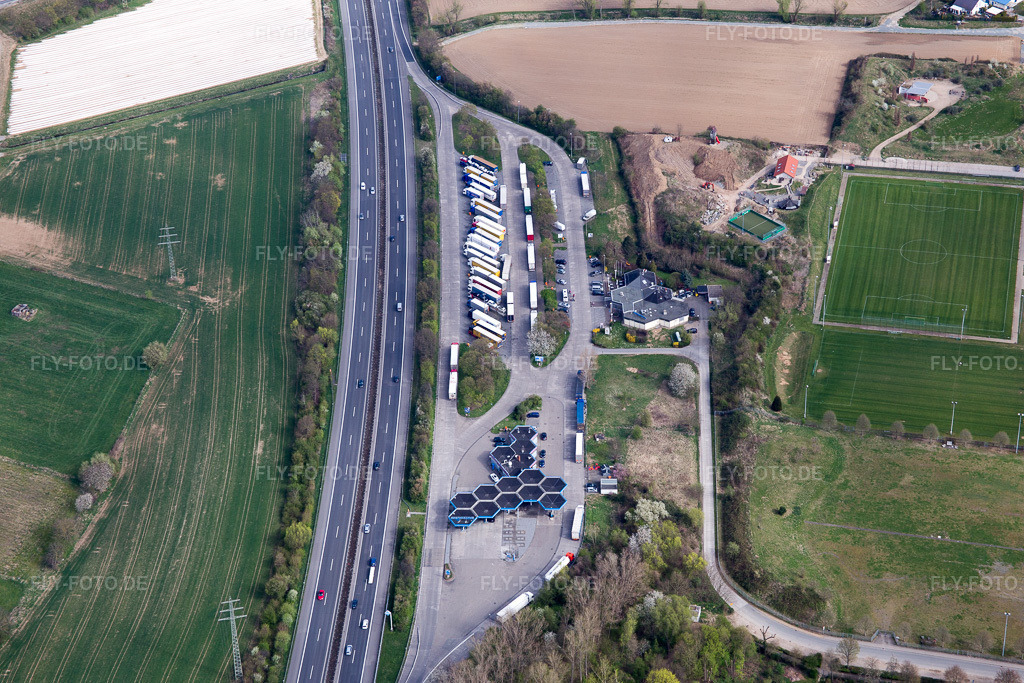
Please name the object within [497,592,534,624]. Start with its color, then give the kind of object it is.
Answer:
white truck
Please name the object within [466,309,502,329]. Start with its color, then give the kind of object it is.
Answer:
white vehicle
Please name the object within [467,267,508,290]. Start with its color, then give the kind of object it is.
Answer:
white truck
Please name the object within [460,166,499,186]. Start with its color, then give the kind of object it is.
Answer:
white vehicle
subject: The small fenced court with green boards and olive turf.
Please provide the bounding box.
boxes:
[726,206,789,242]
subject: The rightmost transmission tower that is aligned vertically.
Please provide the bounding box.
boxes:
[215,603,249,683]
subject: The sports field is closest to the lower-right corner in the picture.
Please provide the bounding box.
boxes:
[804,328,1024,445]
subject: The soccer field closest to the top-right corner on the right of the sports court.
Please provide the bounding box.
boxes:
[812,176,1024,339]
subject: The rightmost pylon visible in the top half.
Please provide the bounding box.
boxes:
[156,217,183,282]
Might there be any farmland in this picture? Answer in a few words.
Yes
